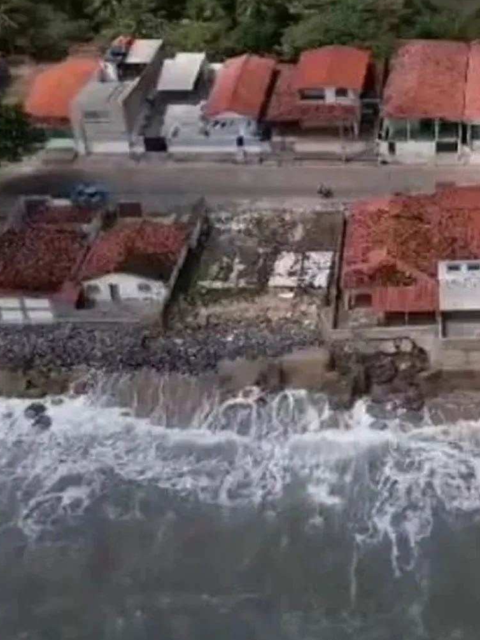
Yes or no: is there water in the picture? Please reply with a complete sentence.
Yes, there is water in the image.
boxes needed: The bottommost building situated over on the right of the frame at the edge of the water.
[325,181,480,341]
